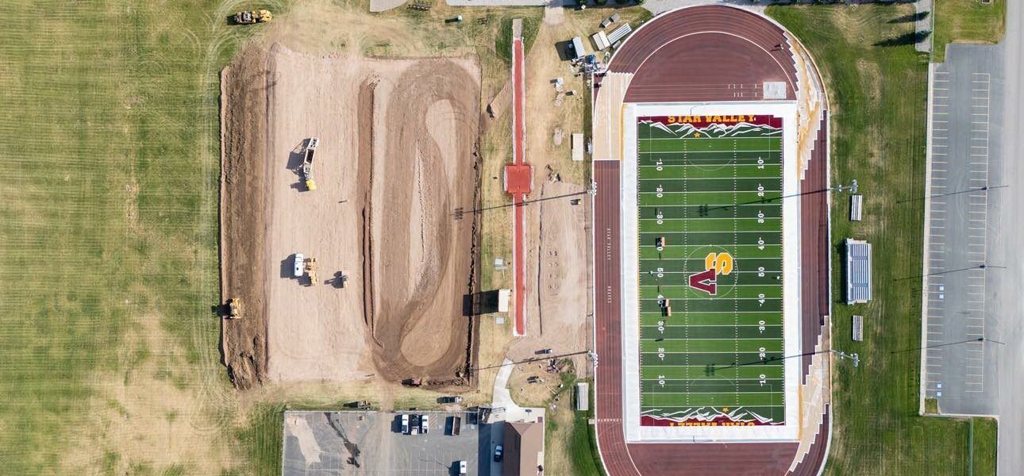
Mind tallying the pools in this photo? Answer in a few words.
0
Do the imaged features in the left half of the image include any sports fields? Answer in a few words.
No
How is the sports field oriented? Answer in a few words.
up and down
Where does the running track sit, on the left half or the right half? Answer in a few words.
right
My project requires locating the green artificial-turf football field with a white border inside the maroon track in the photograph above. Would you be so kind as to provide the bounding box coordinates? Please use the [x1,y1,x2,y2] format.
[620,100,802,445]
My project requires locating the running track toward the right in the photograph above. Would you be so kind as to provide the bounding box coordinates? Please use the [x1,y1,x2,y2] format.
[590,3,832,476]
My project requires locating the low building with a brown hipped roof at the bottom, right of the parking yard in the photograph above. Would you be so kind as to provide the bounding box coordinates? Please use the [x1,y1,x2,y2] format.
[504,420,542,476]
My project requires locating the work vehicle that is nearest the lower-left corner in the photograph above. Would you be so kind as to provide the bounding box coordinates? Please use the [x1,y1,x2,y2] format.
[231,299,243,319]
